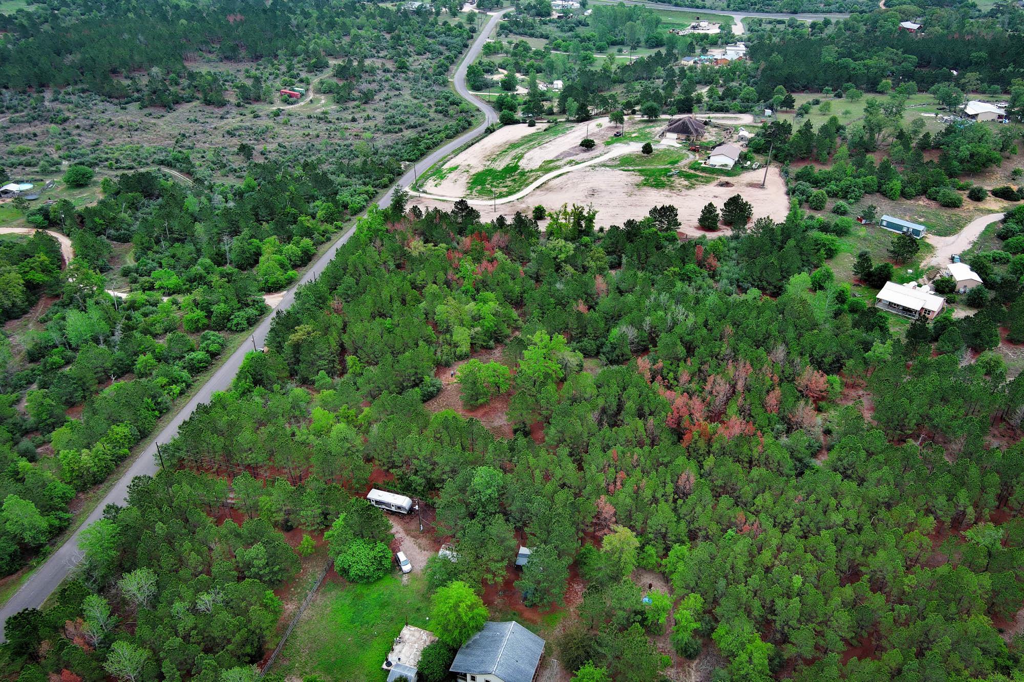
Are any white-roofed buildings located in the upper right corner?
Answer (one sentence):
Yes, looking in the upper right corner, one can make out a white-roofed building.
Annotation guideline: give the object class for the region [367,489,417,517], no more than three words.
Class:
trailer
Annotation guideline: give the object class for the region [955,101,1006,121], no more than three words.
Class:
house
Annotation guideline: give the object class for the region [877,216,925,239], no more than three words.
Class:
house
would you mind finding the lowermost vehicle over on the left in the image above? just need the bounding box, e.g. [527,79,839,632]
[394,552,412,576]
